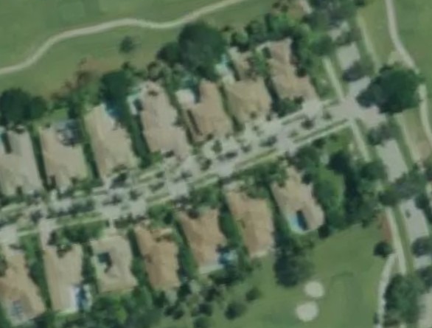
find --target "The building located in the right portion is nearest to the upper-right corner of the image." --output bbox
[264,41,316,109]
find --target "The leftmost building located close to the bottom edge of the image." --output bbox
[0,247,51,323]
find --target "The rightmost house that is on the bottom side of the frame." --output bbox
[275,167,323,237]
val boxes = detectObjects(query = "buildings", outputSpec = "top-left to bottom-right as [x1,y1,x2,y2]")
[90,235,139,295]
[275,167,323,237]
[185,77,230,144]
[138,224,183,293]
[213,54,270,122]
[264,41,316,109]
[0,247,51,323]
[135,81,188,159]
[33,123,88,188]
[79,105,137,177]
[180,205,229,270]
[44,243,92,314]
[230,189,278,259]
[0,124,41,200]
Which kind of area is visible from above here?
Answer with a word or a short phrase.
residential area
